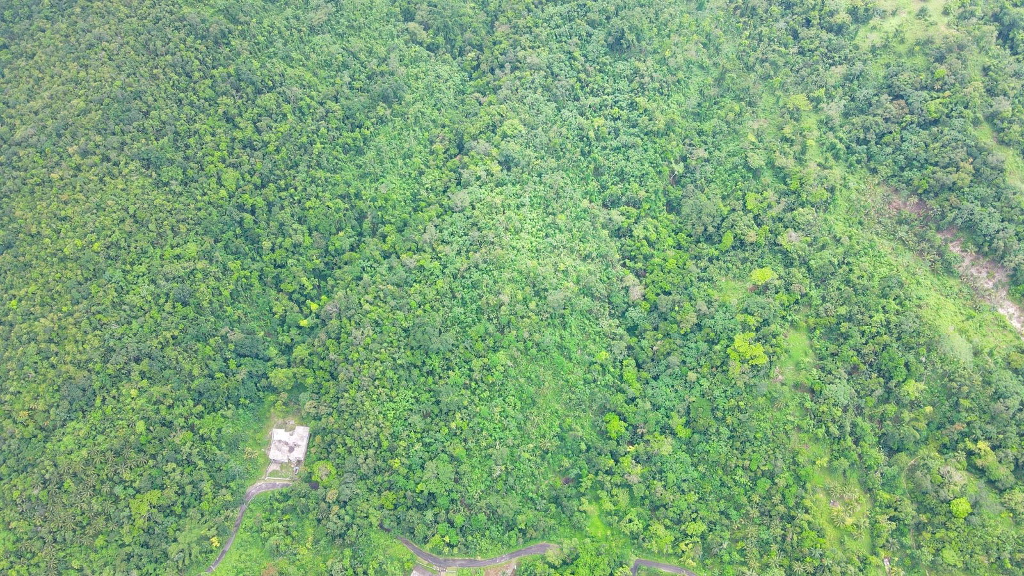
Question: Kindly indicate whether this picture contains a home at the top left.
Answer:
No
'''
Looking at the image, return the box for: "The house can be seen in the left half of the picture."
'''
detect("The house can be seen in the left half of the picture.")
[269,426,310,466]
